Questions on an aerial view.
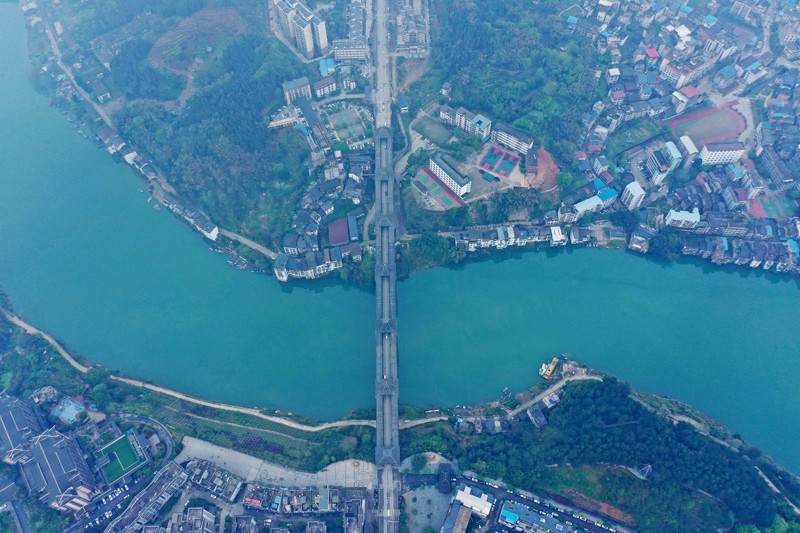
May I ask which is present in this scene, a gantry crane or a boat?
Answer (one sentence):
The image shows a boat.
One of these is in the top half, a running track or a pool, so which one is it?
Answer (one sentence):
There is a running track in the top half.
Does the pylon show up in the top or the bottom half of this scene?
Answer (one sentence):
You can find the pylon in the bottom half.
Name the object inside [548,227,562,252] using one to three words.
building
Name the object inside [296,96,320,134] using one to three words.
building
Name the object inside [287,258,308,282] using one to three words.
house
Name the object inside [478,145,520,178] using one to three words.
sports court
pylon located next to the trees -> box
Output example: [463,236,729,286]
[630,469,652,489]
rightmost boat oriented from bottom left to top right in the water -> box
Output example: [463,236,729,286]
[538,354,562,379]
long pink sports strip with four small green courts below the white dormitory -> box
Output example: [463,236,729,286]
[410,166,459,208]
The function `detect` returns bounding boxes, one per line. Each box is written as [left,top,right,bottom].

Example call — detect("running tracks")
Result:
[666,104,746,148]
